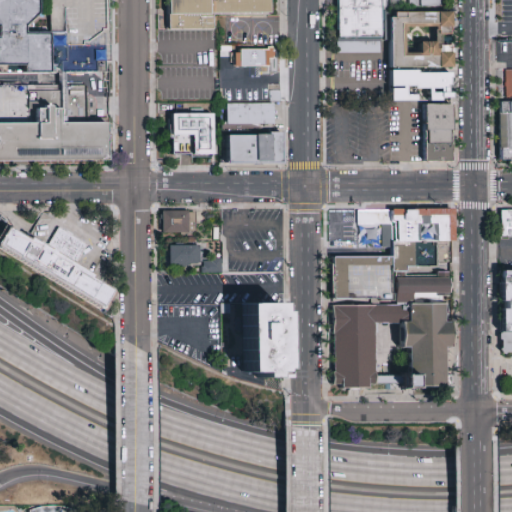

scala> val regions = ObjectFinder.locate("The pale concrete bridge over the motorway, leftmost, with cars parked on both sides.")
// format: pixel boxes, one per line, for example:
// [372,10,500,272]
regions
[114,328,160,508]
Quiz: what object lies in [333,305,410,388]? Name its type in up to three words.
building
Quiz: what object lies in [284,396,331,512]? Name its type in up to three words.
bridge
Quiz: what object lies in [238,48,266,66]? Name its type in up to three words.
building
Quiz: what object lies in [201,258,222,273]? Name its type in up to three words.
house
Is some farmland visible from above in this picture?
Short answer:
No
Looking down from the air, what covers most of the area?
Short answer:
paved ground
